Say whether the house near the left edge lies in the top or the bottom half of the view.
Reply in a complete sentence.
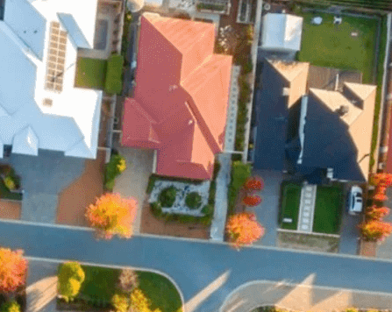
The top half of the photo is where the house near the left edge is.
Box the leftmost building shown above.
[0,0,103,161]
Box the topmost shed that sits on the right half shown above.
[257,13,306,52]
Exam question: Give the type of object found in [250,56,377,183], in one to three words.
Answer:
house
